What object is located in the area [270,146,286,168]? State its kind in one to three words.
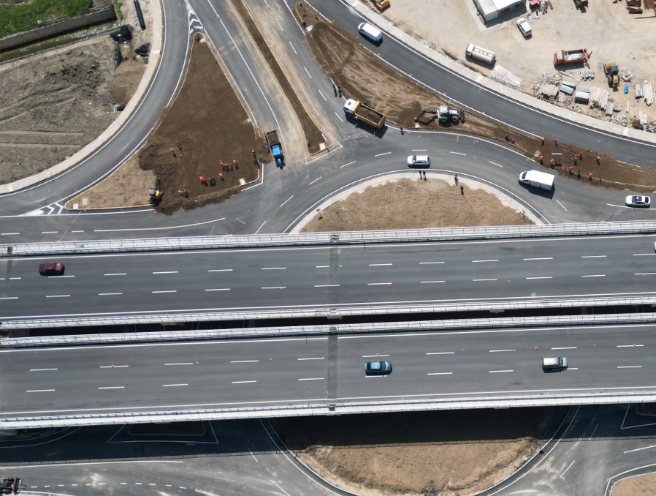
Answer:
work vehicle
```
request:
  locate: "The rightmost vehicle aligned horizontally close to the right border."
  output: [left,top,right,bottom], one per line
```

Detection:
[625,194,650,207]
